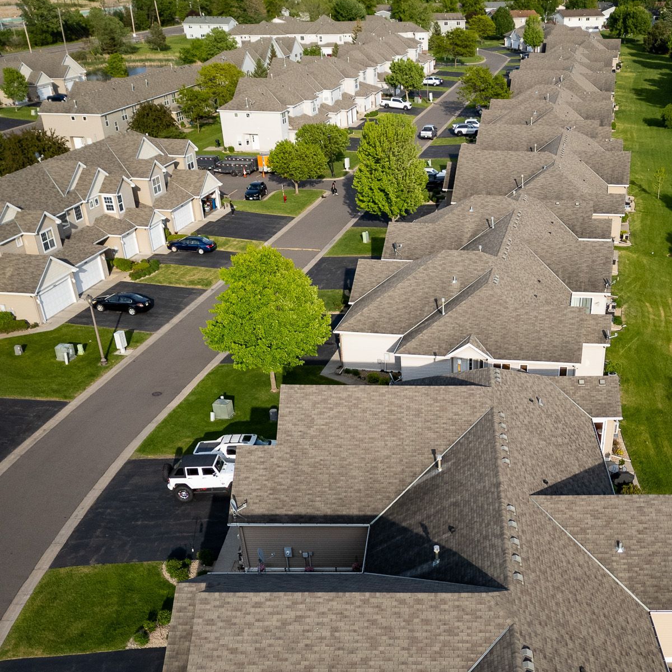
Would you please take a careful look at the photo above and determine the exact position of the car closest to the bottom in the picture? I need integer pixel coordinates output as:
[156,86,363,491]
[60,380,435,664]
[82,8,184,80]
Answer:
[164,459,233,502]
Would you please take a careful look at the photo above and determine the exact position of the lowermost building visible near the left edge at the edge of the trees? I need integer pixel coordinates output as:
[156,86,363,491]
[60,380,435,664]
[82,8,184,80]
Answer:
[0,118,226,322]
